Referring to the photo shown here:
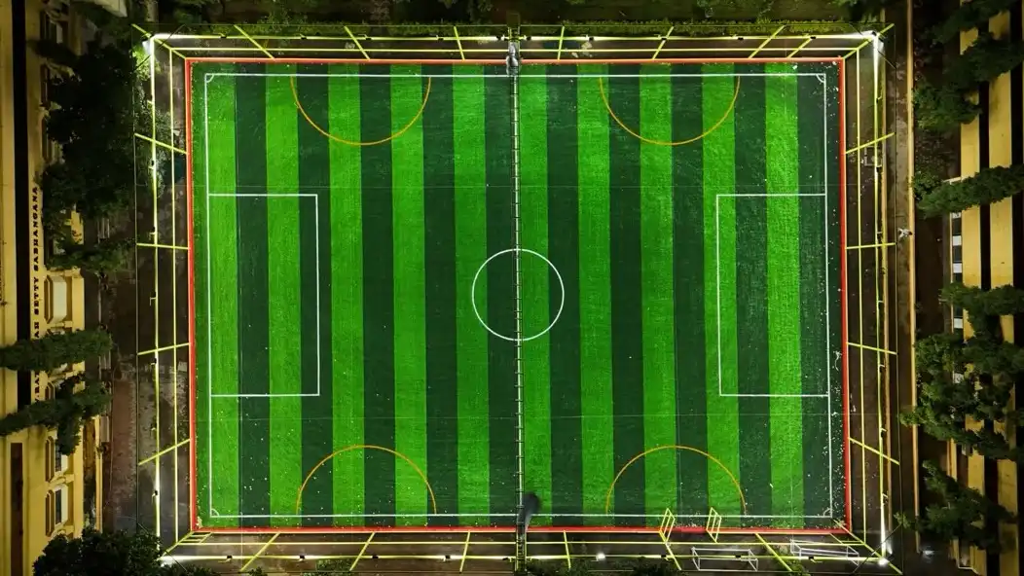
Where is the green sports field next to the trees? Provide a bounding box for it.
[192,63,844,527]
